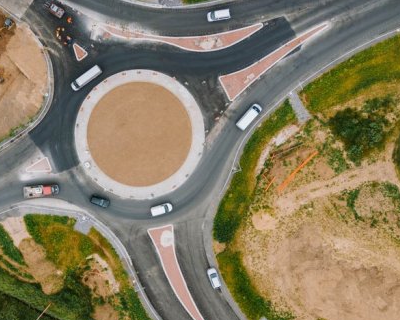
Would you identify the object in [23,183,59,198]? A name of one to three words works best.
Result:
vehicle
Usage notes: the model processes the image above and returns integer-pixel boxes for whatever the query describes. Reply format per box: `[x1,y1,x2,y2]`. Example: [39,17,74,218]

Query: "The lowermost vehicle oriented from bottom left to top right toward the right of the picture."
[235,104,260,130]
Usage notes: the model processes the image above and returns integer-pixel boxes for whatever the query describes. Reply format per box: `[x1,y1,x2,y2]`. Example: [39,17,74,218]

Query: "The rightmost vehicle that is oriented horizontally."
[205,8,231,23]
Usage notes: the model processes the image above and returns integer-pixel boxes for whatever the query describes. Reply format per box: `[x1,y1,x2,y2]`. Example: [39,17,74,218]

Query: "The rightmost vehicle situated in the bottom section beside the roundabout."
[150,202,173,216]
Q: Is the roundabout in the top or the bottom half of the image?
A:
top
